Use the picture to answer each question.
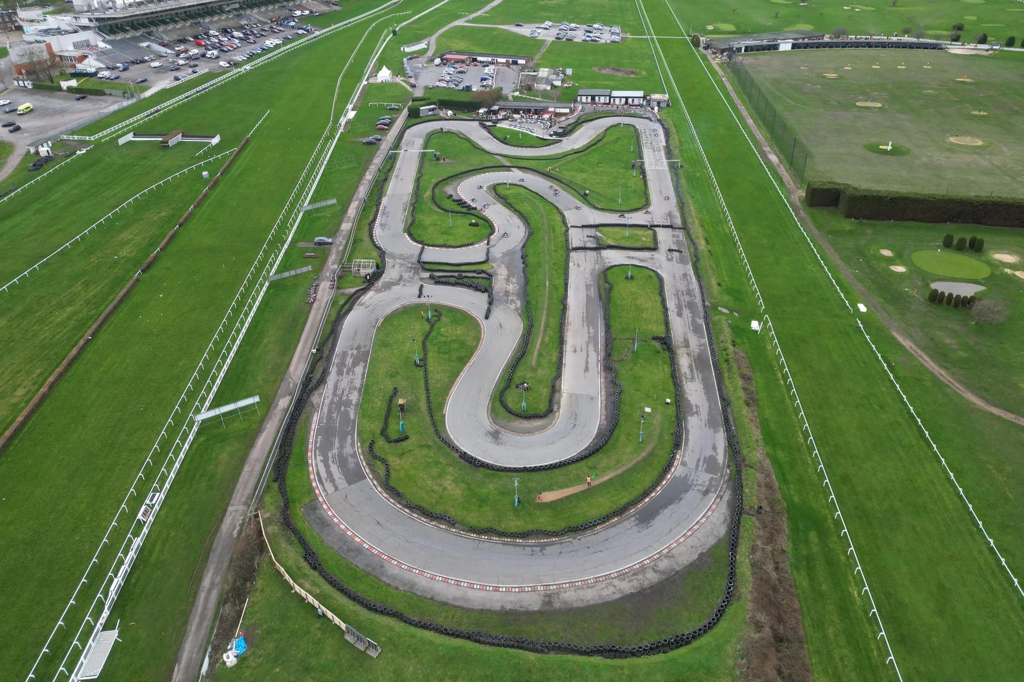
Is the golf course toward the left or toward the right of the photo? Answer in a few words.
right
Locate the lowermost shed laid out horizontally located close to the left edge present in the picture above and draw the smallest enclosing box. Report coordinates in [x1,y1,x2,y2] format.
[13,134,52,154]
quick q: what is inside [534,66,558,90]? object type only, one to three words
shed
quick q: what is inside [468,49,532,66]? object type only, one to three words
building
